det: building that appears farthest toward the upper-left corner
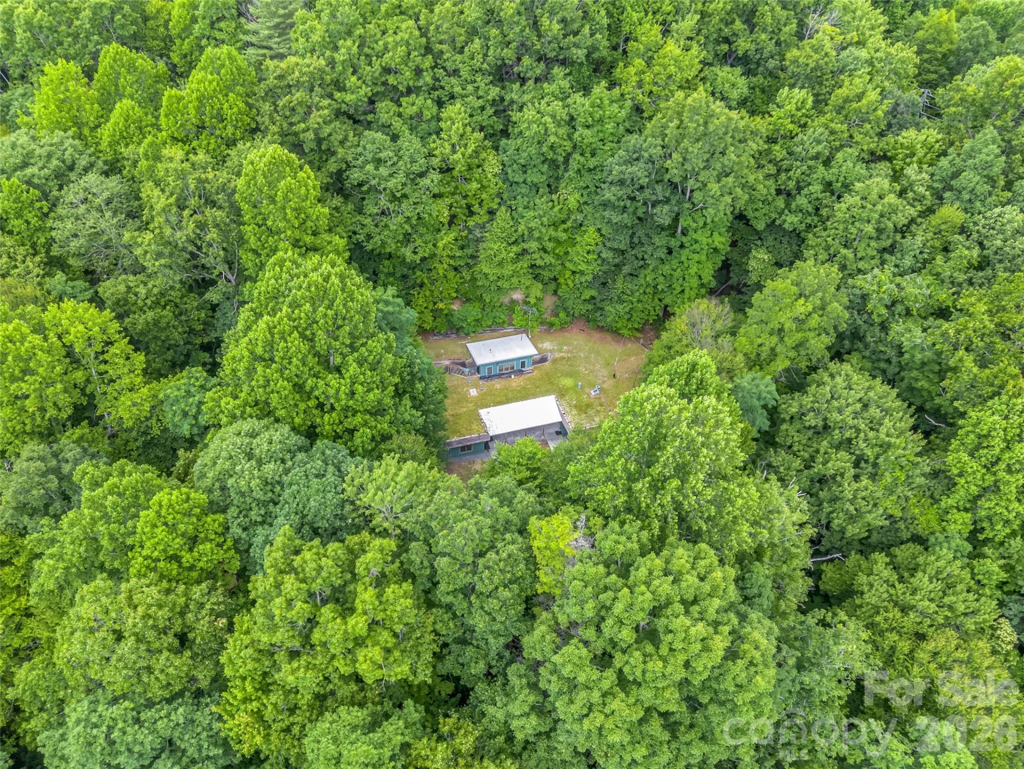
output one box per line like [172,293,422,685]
[466,332,539,380]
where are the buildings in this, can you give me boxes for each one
[434,394,567,468]
[466,332,539,380]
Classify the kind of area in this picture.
forest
